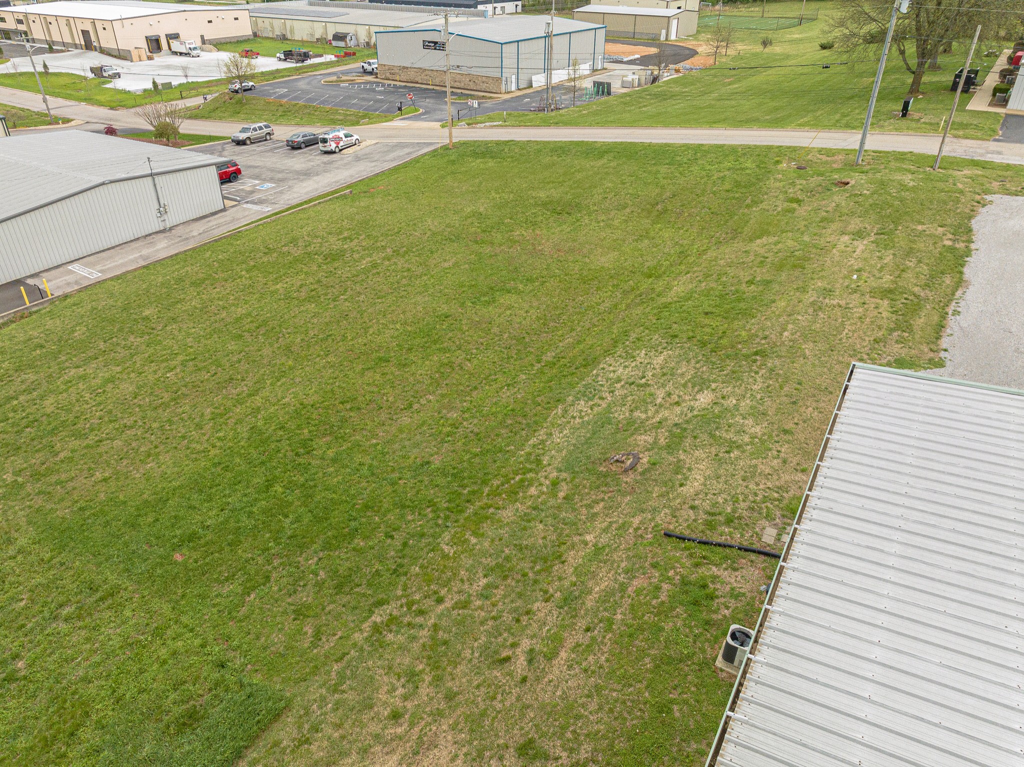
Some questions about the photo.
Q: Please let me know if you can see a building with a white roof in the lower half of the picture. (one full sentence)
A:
Yes, you'll find a building with a white roof in the lower half of the picture.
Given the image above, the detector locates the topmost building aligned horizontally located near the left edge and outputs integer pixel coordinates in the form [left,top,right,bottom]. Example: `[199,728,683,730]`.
[0,0,246,56]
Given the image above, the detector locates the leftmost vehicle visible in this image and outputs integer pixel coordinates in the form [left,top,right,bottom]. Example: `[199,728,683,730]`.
[86,60,124,79]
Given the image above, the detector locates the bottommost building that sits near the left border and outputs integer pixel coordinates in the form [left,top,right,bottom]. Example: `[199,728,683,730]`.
[0,133,238,286]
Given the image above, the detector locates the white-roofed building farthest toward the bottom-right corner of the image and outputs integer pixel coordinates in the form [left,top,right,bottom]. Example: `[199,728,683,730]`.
[698,359,1024,767]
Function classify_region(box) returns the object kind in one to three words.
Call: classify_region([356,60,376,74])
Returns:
vehicle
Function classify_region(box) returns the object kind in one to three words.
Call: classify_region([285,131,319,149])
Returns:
car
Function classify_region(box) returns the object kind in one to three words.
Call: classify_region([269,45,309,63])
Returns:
vehicle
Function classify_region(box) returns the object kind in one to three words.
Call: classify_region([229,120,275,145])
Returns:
car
